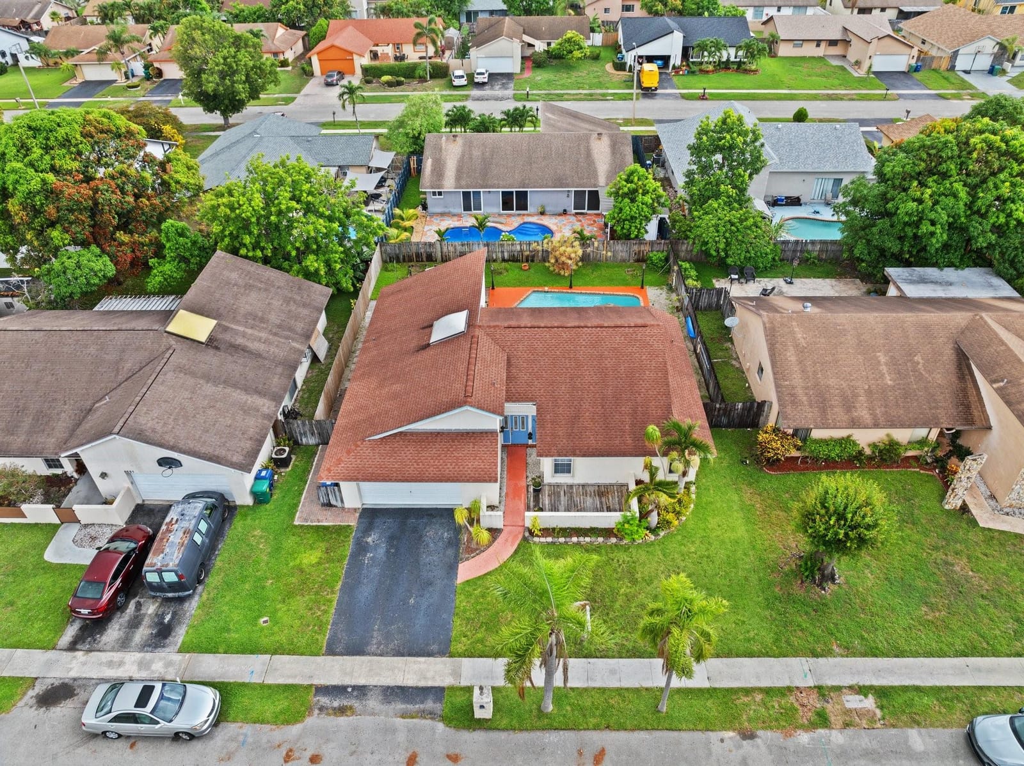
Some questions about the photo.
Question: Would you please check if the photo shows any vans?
Yes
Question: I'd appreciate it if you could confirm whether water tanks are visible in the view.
No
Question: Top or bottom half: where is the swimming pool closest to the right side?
top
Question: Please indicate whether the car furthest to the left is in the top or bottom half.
bottom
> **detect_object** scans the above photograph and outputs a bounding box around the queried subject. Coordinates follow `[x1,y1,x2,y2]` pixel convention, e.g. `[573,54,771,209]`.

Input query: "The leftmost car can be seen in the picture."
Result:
[66,526,149,623]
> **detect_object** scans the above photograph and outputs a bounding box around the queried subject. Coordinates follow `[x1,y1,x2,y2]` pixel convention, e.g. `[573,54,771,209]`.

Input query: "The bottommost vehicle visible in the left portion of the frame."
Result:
[80,674,225,741]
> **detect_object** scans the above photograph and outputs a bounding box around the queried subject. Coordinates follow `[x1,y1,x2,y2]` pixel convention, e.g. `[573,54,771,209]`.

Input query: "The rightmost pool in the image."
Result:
[781,215,871,238]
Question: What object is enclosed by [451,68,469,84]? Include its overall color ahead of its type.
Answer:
white car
